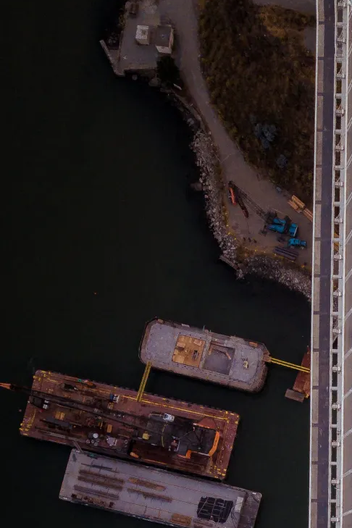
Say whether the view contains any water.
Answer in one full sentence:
Yes, the picture does contain water.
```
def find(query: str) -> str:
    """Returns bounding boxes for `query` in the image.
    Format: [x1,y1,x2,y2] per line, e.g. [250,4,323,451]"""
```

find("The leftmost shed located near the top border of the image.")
[136,26,153,47]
